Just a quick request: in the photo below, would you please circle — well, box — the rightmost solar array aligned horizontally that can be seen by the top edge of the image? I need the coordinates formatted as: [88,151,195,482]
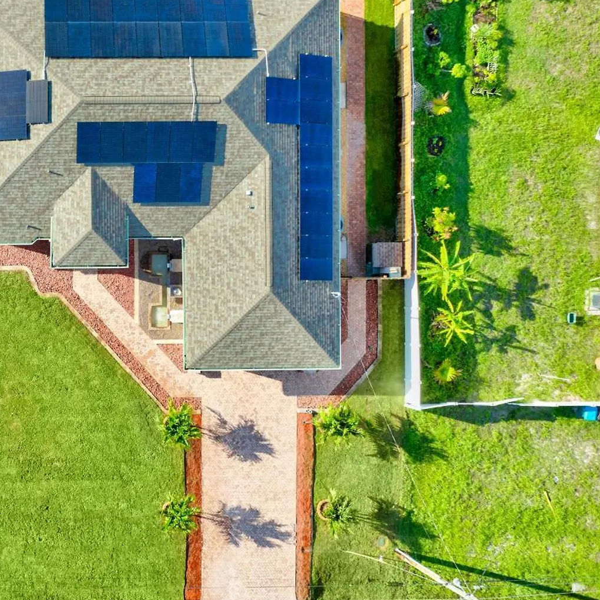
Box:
[45,0,253,59]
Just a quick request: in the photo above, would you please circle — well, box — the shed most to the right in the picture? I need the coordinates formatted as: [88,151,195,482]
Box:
[364,244,399,270]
